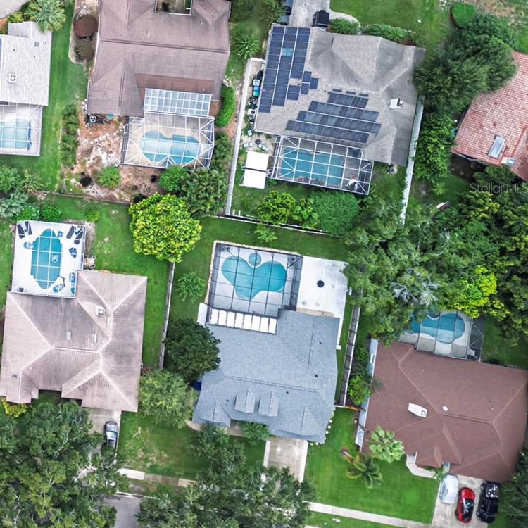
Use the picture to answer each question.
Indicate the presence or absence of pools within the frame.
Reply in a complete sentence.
Yes, a pool can be made out from above.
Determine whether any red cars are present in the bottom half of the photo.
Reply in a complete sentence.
Yes, a red car can be seen in the bottom half of the photo.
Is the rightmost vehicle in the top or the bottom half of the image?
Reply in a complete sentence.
You can find the rightmost vehicle in the bottom half.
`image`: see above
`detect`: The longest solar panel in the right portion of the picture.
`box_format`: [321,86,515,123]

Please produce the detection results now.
[488,136,506,158]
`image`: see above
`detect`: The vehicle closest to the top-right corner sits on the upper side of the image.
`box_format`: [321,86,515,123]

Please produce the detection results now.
[311,3,331,31]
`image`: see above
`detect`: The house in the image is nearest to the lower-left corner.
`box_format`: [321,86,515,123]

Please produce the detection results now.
[0,270,147,413]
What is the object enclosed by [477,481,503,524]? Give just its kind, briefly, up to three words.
vehicle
